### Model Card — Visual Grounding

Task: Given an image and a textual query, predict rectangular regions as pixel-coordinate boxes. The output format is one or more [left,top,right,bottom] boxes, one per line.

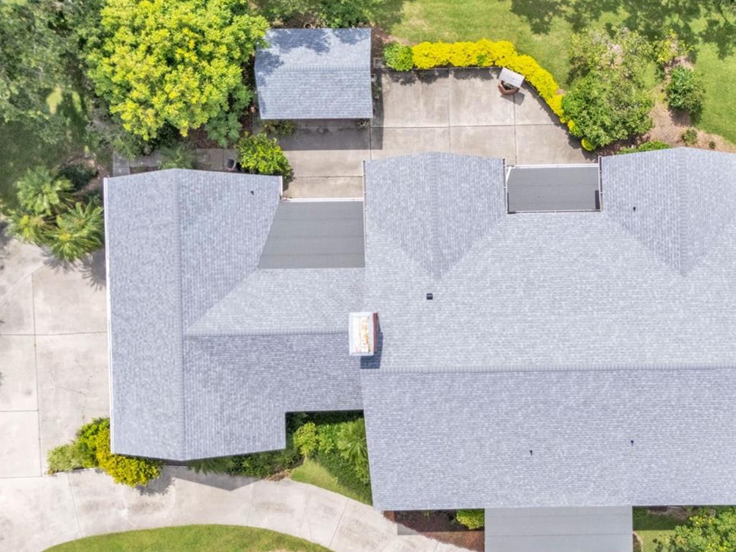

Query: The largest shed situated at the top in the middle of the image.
[253,28,373,123]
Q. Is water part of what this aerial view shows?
No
